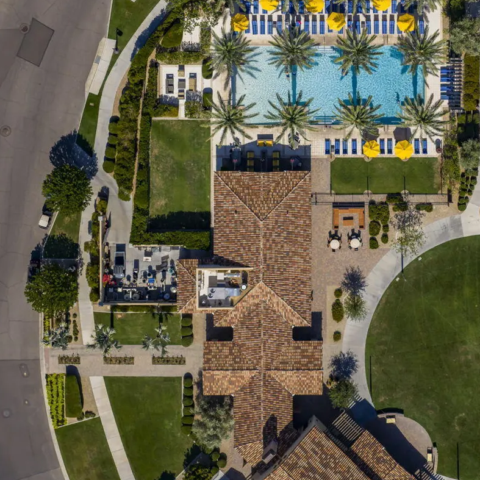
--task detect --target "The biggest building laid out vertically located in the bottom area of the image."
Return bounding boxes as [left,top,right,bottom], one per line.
[176,169,323,467]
